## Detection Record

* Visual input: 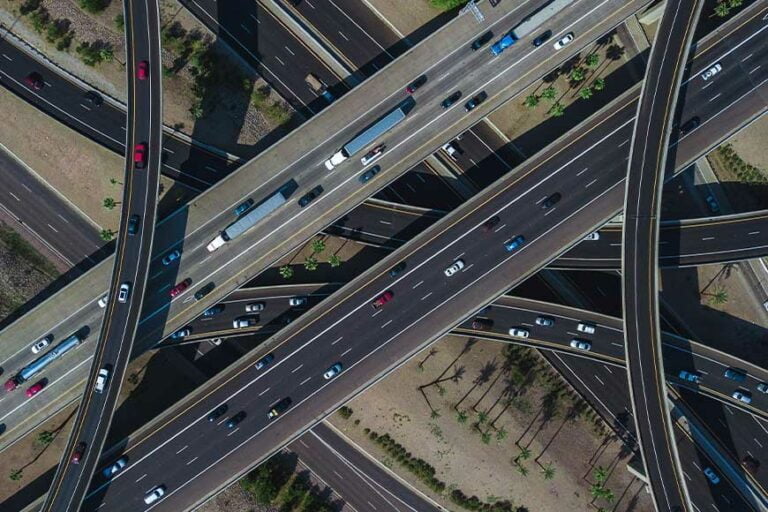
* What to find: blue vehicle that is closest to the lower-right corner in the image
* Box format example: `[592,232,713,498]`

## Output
[704,466,719,484]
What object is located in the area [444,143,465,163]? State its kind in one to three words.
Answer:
vehicle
